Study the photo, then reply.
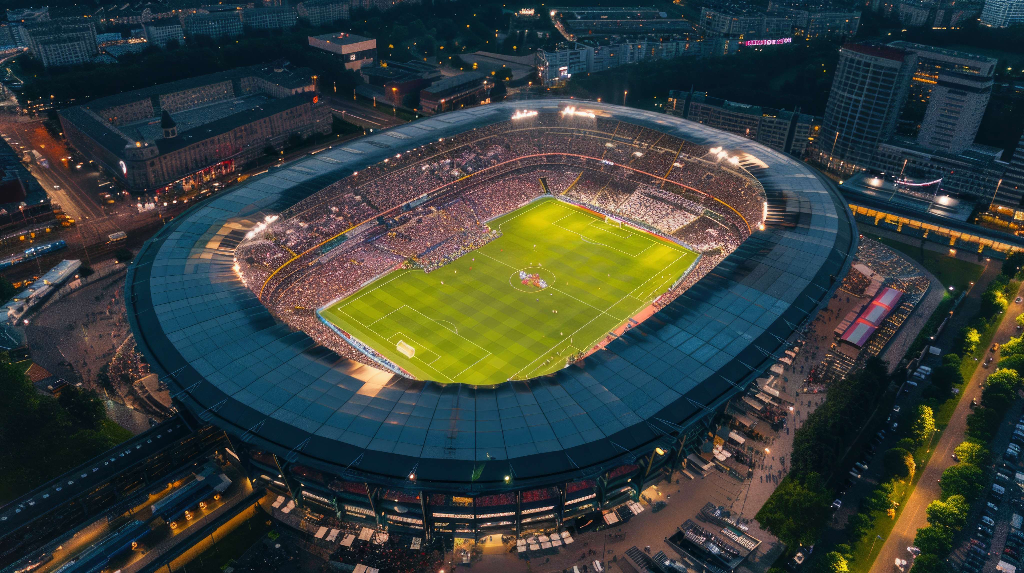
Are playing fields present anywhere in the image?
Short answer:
Yes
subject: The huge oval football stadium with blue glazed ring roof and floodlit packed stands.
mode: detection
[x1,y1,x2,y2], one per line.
[119,97,860,573]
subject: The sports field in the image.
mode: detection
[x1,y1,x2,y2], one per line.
[318,195,707,384]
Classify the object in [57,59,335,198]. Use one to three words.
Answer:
building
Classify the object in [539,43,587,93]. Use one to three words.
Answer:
building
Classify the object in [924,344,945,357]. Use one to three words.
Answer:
vehicle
